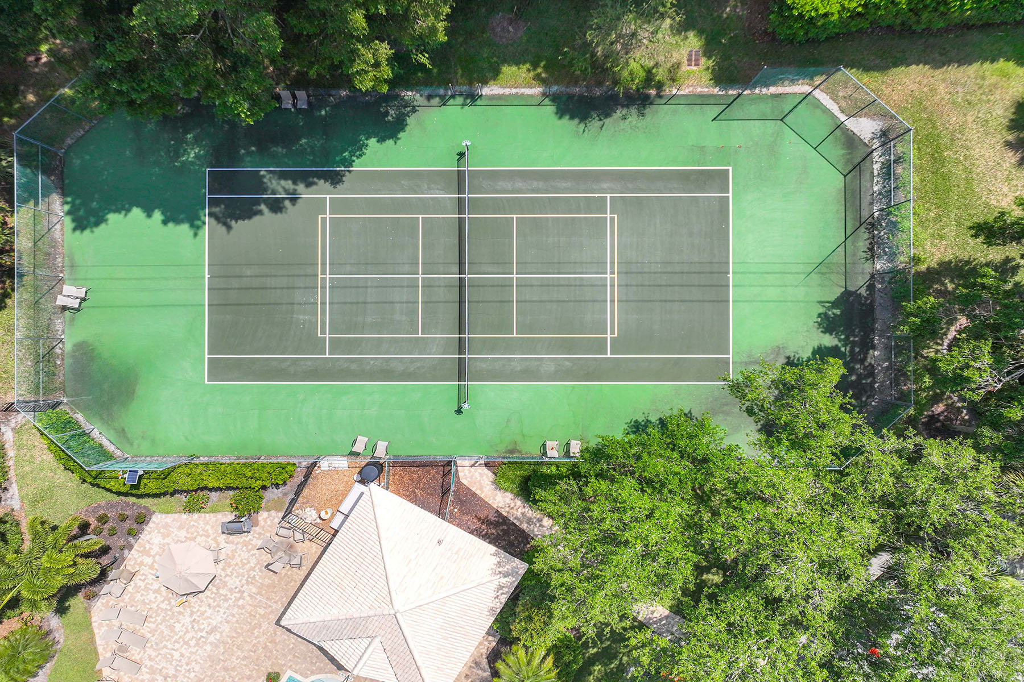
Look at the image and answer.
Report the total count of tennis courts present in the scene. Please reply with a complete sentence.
In total, 1 tennis court can be seen.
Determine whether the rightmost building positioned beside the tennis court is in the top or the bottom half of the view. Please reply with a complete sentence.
The rightmost building positioned beside the tennis court sits in the bottom half of the picture.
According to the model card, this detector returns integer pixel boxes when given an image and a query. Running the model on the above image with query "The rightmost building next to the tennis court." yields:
[275,483,529,682]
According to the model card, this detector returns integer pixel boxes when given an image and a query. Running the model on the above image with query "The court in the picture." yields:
[64,93,875,457]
